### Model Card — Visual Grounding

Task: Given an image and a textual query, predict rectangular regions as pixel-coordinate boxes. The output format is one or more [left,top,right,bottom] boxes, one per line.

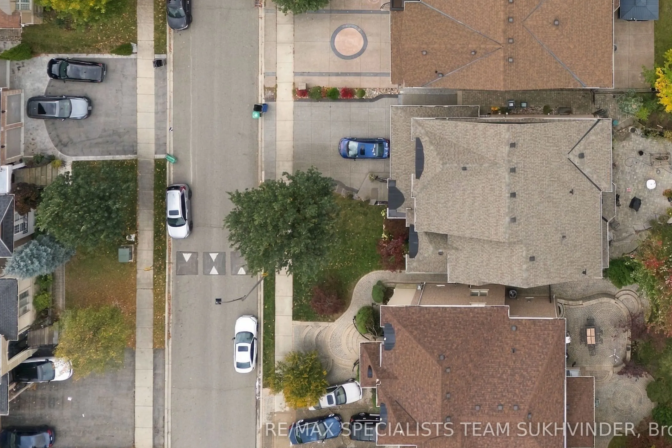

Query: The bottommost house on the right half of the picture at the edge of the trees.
[359,281,596,448]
